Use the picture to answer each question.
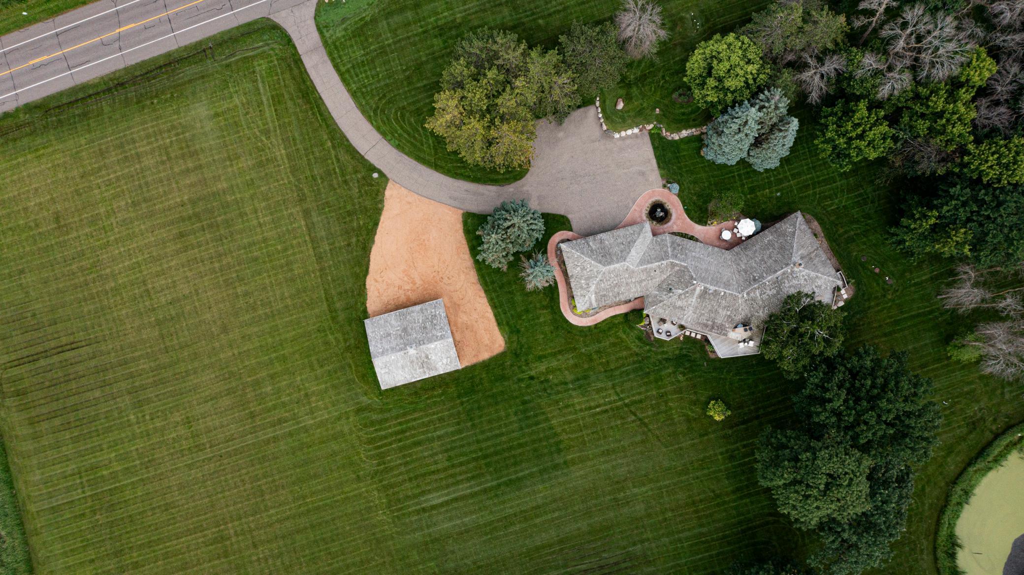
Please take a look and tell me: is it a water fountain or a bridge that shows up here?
water fountain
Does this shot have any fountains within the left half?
No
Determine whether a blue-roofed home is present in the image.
No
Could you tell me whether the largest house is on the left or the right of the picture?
right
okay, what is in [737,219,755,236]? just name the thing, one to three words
umbrella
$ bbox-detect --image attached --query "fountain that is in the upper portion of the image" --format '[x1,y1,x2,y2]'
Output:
[643,197,674,227]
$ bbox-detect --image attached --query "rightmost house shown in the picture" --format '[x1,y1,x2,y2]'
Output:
[560,211,848,358]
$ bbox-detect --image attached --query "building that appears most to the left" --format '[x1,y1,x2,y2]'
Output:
[364,299,461,389]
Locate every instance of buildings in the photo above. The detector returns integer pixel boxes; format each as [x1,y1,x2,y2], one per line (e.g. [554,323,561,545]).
[560,211,848,358]
[364,299,461,389]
